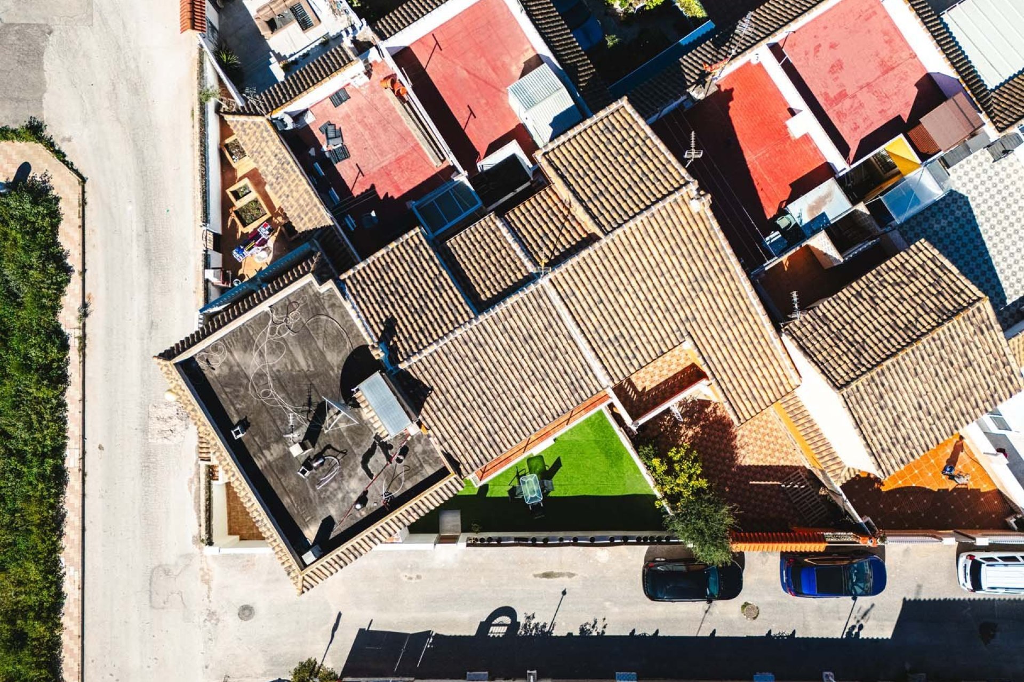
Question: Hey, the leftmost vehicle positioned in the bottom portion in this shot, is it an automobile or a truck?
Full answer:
It turns out the leftmost vehicle positioned in the bottom portion is an automobile.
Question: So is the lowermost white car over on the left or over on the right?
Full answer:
It is on the right.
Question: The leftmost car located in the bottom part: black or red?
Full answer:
From above, the leftmost car located in the bottom part appears black.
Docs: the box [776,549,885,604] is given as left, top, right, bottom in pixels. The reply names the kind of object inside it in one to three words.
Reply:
car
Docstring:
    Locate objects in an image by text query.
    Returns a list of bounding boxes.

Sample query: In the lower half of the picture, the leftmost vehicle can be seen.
[640,554,742,609]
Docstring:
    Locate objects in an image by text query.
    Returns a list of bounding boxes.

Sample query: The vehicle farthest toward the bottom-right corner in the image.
[957,546,1024,595]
